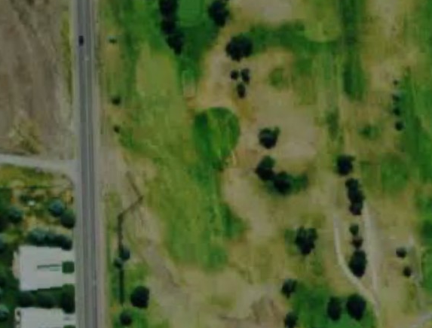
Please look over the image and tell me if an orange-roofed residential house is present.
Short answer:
No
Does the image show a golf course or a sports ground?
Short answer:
golf course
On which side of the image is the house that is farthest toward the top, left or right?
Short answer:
left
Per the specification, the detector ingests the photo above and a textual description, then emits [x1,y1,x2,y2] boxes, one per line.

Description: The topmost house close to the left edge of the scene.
[19,247,61,292]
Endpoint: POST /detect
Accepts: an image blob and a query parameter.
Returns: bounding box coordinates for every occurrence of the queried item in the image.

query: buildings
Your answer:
[21,309,65,328]
[19,247,61,292]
